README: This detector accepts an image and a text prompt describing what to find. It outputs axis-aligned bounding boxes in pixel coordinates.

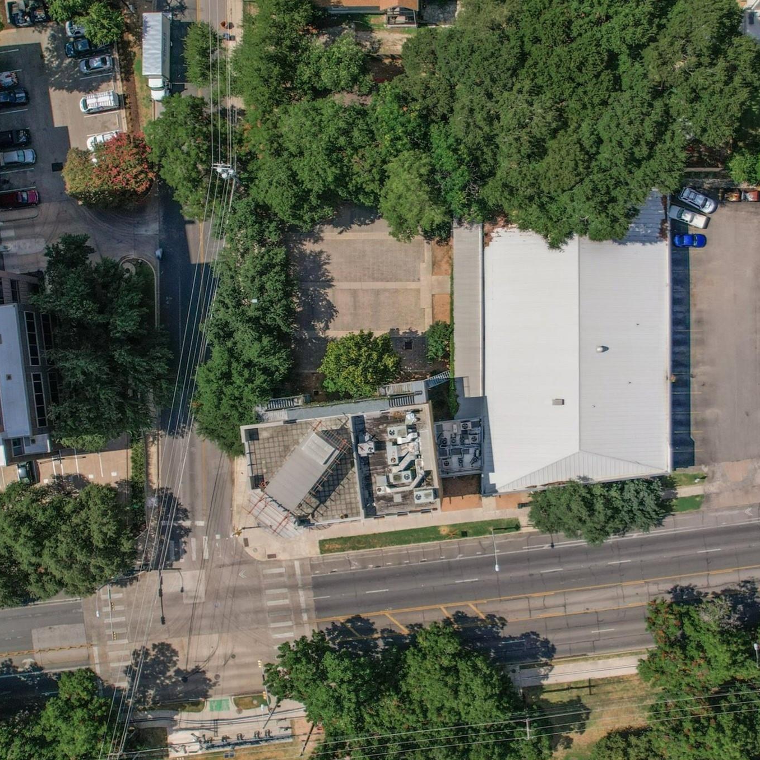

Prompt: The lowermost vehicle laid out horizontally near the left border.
[0,189,41,210]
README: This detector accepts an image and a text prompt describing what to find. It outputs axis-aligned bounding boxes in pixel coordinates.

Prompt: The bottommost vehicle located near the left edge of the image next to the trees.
[18,456,37,489]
